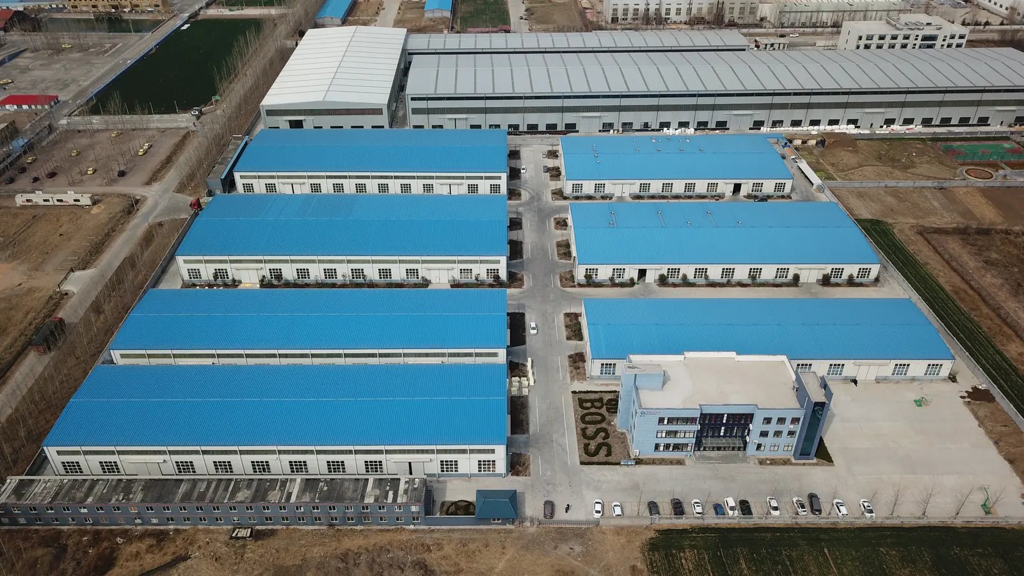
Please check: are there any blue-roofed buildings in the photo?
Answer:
Yes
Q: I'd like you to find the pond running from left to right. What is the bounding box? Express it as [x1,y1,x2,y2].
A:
[33,17,163,33]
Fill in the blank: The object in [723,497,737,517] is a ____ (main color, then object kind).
white car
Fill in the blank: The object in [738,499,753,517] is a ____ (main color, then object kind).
black car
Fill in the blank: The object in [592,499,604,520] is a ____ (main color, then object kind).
white vehicle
